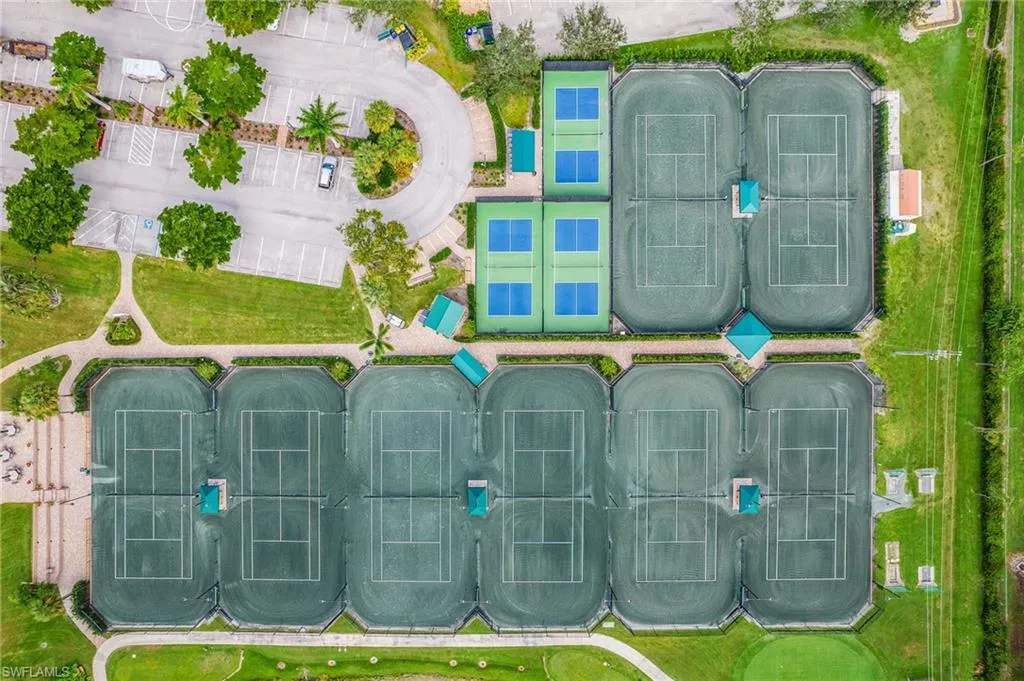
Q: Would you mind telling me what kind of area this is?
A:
sports ground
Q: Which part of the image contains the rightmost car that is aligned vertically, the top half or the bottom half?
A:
top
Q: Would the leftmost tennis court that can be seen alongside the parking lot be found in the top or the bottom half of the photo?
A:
bottom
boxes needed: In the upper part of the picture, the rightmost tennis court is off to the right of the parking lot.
[743,68,875,333]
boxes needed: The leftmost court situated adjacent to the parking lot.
[90,366,217,629]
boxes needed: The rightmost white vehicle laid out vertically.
[316,155,336,191]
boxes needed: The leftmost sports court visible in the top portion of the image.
[476,201,543,333]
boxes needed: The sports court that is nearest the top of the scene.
[543,69,611,196]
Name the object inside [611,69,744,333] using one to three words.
tennis court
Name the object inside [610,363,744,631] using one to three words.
tennis court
